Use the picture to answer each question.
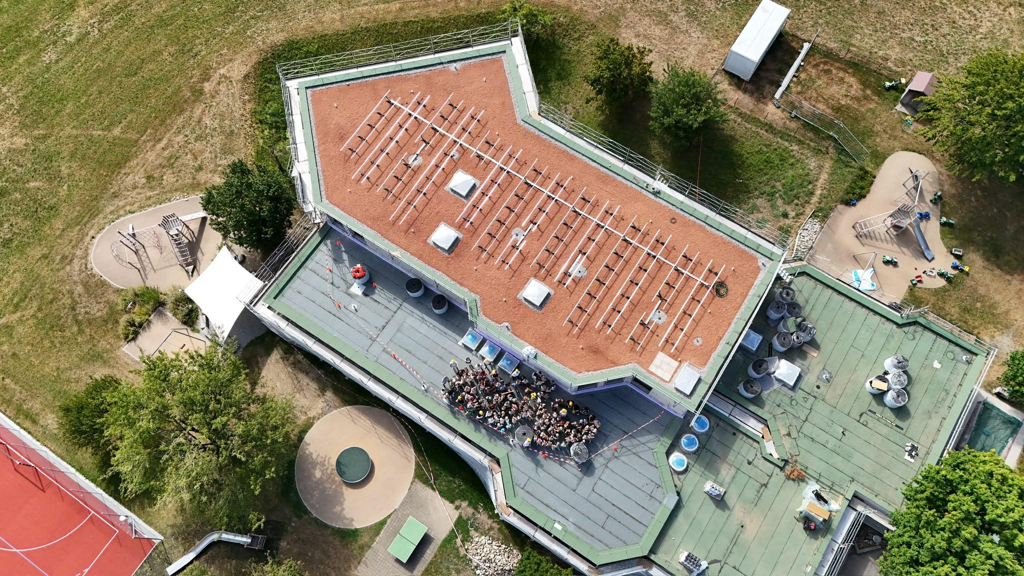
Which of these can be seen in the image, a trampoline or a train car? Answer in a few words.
trampoline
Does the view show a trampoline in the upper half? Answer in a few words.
No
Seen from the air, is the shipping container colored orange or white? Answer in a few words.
white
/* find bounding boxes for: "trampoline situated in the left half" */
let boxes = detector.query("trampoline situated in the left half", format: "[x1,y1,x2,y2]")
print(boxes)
[335,446,372,484]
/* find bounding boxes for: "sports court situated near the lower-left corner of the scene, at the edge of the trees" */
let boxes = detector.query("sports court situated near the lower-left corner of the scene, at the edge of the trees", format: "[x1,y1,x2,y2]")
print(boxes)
[0,433,155,576]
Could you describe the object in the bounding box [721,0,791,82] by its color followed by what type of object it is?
white shipping container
